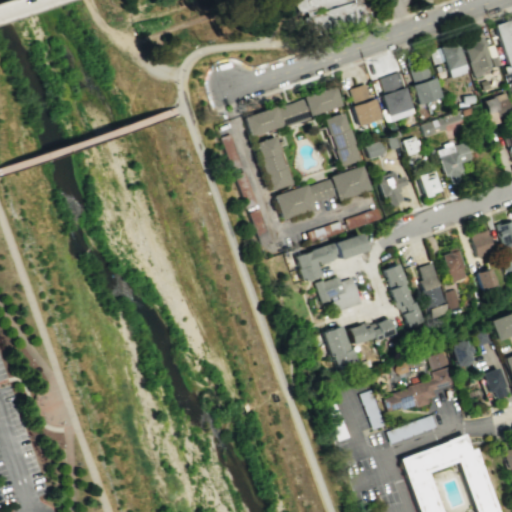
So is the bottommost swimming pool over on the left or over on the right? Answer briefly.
right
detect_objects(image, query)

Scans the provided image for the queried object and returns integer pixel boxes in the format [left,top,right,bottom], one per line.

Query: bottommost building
[404,435,504,512]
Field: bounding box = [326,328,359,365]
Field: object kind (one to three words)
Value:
building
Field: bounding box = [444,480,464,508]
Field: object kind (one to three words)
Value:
swimming pool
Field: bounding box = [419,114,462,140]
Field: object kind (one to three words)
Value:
house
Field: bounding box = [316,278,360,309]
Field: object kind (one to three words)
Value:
building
